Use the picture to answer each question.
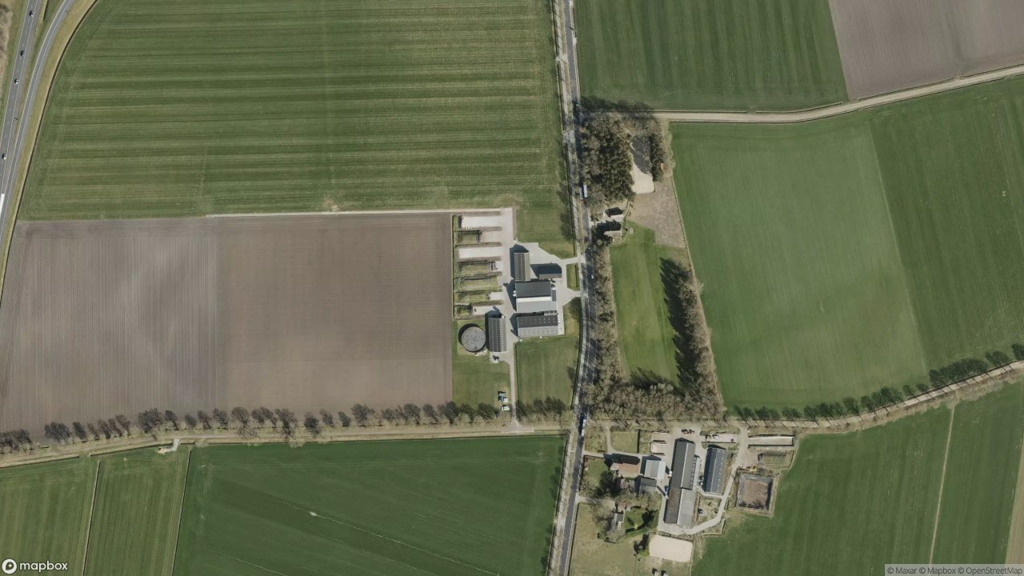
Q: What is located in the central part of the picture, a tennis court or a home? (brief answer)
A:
home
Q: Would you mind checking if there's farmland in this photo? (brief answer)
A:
Yes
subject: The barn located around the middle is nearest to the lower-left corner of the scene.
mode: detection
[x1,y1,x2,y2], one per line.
[489,317,506,352]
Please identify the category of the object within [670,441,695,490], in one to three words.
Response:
barn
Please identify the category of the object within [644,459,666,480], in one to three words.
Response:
shed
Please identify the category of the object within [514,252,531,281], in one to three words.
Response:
barn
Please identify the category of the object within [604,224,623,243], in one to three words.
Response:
house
